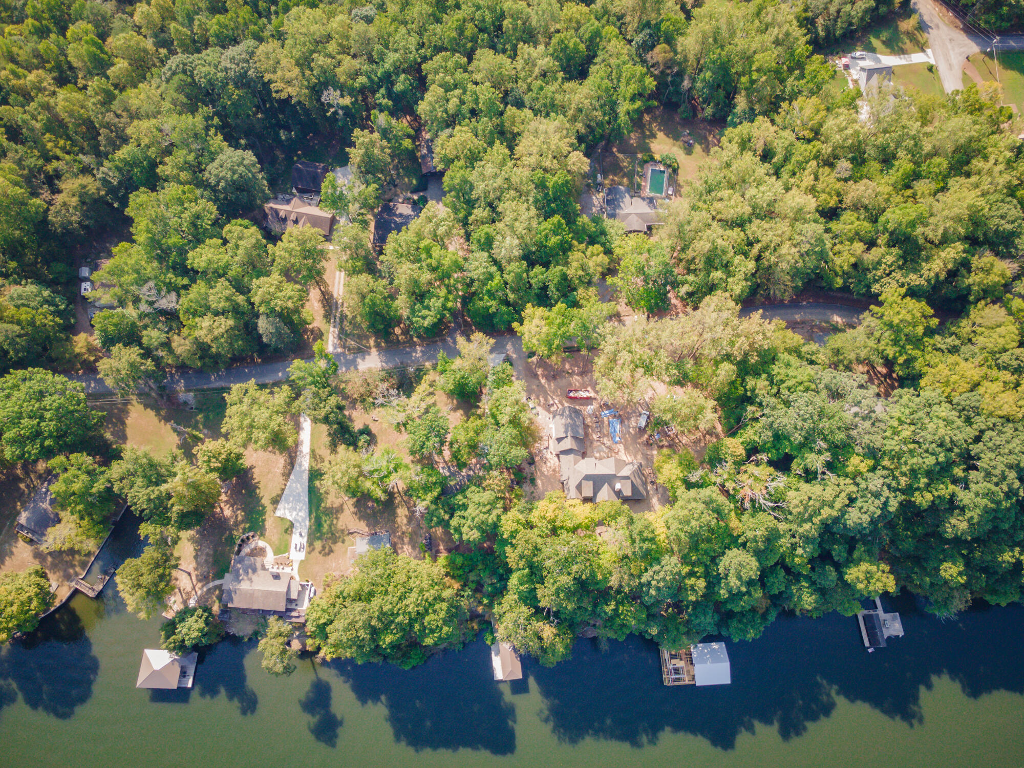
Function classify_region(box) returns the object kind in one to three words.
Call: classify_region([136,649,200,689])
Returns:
building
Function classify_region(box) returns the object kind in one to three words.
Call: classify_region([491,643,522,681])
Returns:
building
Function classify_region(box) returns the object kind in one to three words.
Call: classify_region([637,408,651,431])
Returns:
car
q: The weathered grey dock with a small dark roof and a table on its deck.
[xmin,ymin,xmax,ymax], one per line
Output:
[857,594,905,647]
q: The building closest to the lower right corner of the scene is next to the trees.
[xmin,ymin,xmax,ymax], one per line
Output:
[690,642,730,686]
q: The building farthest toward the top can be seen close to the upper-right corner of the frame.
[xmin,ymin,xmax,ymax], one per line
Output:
[857,60,897,124]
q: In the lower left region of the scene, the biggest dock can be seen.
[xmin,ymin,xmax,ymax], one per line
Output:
[74,566,117,598]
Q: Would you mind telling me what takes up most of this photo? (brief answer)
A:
trees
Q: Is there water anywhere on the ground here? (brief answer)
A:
Yes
